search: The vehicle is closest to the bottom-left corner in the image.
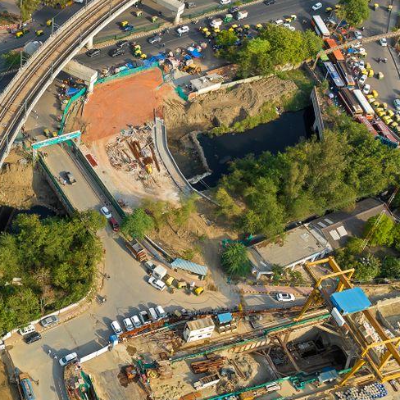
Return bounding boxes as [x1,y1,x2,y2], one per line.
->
[16,367,38,400]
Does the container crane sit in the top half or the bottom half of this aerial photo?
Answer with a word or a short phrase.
bottom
